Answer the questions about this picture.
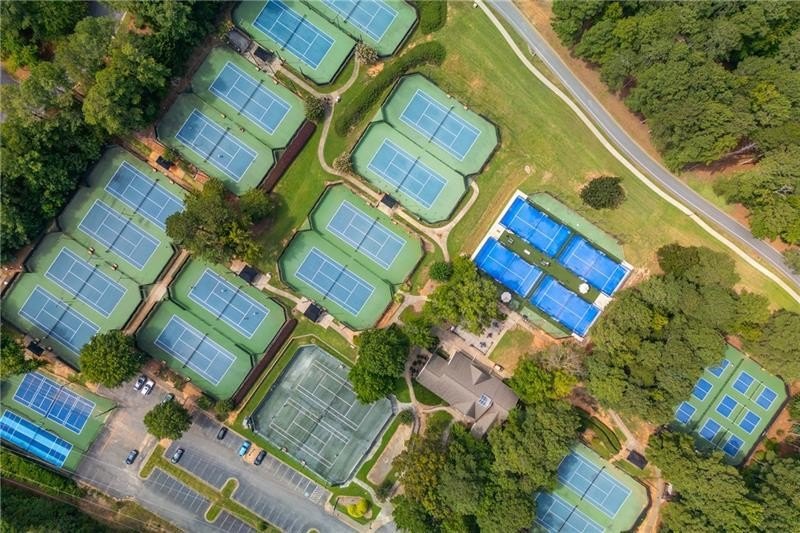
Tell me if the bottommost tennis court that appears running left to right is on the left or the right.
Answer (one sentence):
It is on the right.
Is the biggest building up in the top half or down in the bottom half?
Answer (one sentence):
You can find the biggest building in the bottom half.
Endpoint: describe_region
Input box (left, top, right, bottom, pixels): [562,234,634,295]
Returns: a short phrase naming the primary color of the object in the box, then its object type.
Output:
blue sports court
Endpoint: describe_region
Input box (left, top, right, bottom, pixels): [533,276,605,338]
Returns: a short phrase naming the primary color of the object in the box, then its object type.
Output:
blue sports court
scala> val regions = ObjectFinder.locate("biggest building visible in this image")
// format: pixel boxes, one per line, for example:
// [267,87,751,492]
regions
[416,346,520,442]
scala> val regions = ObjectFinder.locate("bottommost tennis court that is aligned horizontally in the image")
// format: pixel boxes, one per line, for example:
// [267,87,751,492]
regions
[520,483,625,533]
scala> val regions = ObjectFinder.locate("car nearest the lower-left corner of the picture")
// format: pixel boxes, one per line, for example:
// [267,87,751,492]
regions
[126,449,139,464]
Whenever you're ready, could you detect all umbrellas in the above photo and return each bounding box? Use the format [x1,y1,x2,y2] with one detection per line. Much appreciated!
[579,283,589,293]
[501,292,511,302]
